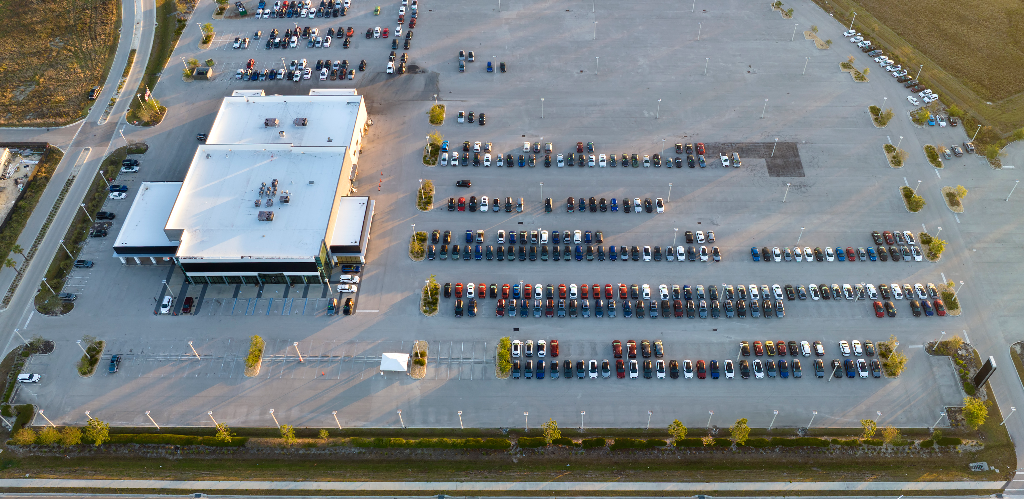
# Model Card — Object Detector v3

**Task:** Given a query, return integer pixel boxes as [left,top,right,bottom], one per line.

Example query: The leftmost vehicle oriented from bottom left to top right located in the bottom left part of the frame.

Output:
[106,354,124,374]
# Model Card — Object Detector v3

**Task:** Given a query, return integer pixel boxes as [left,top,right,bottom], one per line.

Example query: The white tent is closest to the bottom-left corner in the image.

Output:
[380,353,409,376]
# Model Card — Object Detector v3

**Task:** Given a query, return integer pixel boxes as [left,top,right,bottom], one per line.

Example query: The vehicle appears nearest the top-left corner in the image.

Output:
[89,86,102,99]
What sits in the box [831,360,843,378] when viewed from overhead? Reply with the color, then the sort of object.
black vehicle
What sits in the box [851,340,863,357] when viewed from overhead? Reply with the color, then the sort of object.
white vehicle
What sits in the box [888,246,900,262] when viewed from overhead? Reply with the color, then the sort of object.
black vehicle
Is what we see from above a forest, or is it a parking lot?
parking lot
